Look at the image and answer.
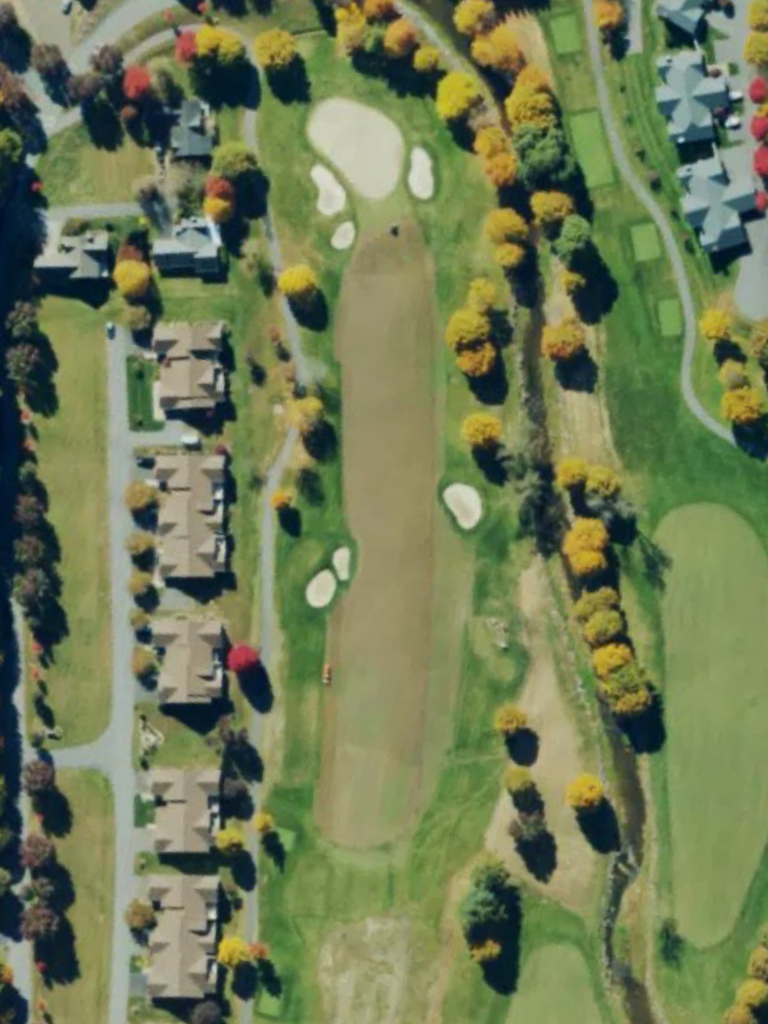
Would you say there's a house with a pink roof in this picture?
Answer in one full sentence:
No, there is no house with a pink roof in the image.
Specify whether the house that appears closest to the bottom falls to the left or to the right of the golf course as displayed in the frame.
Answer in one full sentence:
Relative to the golf course, the house that appears closest to the bottom lies to the left.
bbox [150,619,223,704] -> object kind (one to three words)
house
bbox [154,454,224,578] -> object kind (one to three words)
house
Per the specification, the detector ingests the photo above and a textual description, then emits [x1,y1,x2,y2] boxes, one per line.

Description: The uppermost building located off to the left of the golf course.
[171,100,213,157]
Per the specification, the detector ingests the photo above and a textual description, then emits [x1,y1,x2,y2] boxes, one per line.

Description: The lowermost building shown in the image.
[146,875,218,1000]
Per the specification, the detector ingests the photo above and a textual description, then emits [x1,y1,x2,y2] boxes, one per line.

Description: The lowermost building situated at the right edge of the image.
[675,160,758,256]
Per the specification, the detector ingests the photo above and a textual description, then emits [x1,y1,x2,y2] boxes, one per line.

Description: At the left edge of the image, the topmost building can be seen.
[34,231,109,279]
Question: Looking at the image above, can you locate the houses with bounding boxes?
[653,51,731,148]
[675,160,758,256]
[146,875,218,1000]
[152,320,224,409]
[150,619,223,704]
[154,215,221,273]
[150,768,219,854]
[154,454,224,578]
[34,231,109,279]
[171,100,213,157]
